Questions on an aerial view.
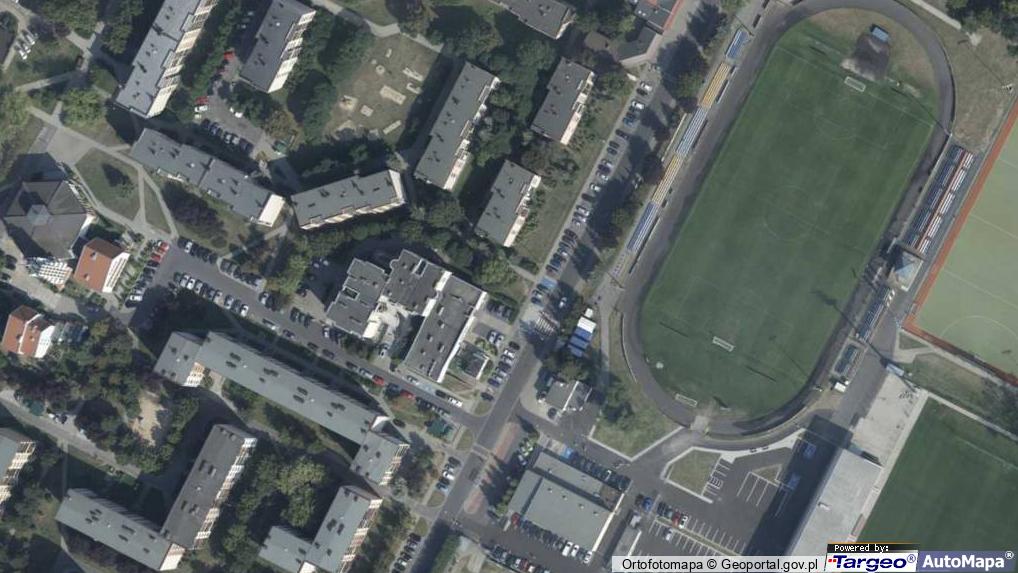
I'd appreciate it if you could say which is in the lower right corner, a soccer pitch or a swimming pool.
soccer pitch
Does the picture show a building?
Yes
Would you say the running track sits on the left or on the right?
right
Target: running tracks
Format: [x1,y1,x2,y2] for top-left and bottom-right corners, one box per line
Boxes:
[621,0,955,435]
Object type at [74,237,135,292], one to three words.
house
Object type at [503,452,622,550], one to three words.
building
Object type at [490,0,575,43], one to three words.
building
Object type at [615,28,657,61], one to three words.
shed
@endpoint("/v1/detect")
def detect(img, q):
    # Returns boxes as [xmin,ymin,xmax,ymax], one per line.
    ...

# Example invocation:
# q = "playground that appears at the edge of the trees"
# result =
[130,392,166,441]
